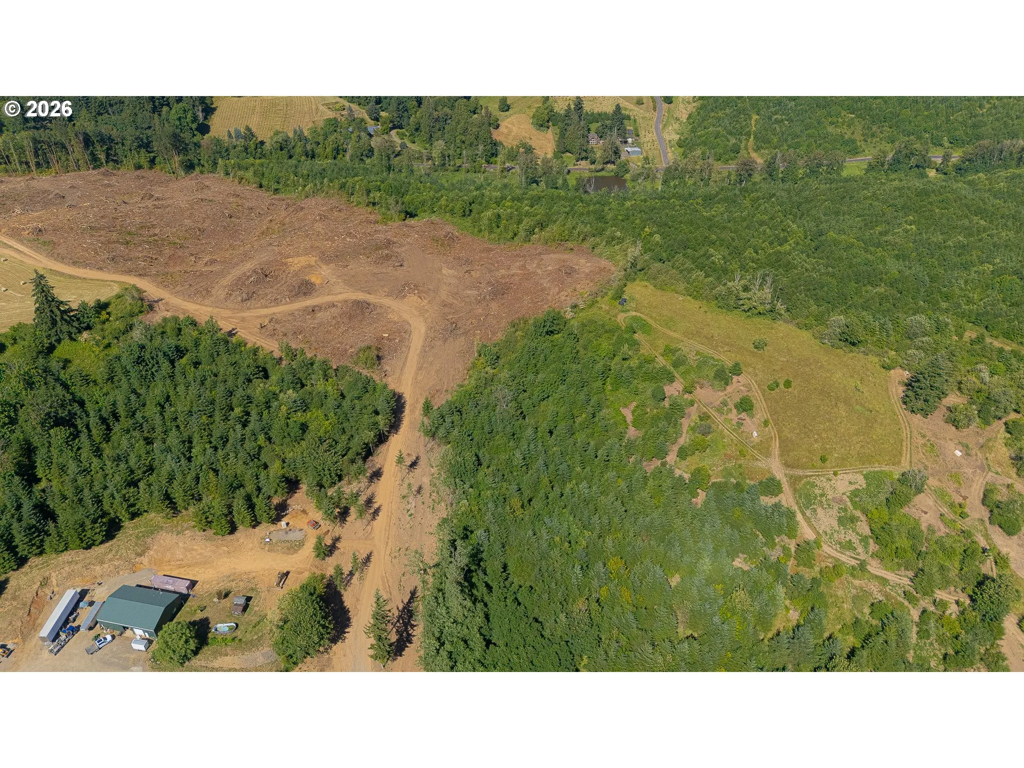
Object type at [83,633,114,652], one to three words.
vehicle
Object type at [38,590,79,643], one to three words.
trailer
